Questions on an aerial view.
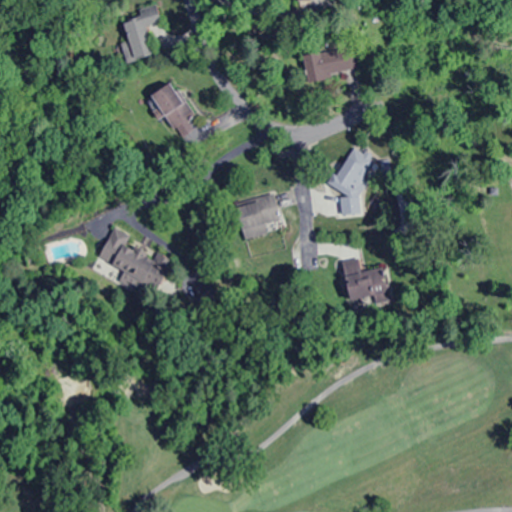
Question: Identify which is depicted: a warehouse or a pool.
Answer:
pool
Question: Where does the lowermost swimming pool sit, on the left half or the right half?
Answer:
left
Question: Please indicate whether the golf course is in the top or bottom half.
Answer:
bottom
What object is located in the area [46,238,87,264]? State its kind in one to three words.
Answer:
swimming pool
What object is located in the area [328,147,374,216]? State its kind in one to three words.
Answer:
house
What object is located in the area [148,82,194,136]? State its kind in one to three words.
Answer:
house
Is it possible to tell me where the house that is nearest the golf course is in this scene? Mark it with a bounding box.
[342,258,392,306]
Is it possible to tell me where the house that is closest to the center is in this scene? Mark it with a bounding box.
[238,193,286,238]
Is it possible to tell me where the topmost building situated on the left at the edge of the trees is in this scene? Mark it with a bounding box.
[122,4,160,62]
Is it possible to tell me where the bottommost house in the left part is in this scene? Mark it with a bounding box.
[96,224,170,290]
